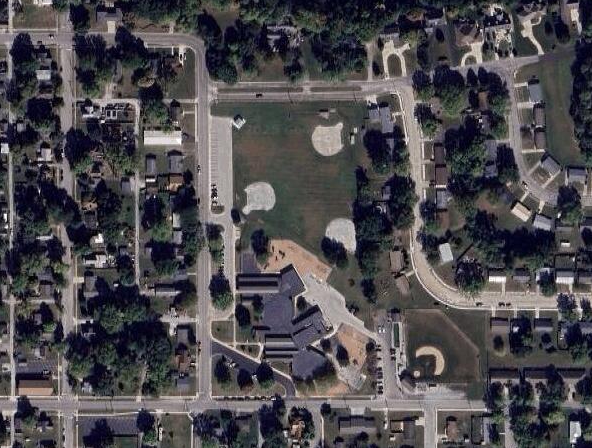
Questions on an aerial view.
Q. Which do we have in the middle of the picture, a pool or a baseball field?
baseball field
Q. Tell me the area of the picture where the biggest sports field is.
center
